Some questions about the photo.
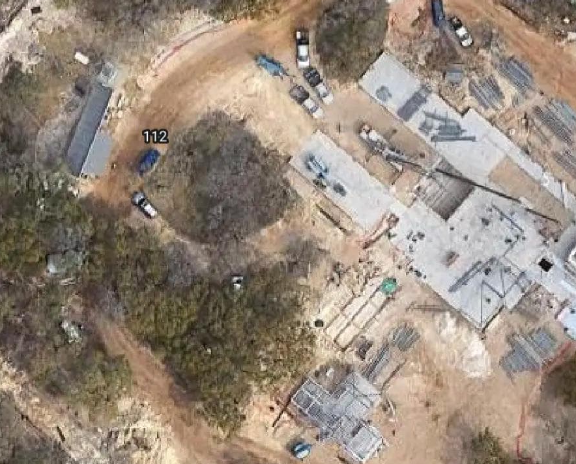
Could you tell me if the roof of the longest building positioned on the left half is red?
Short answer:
No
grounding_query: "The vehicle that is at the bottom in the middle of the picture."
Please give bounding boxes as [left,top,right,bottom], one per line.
[294,440,314,459]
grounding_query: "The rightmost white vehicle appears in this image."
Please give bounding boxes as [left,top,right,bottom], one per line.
[447,13,473,48]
